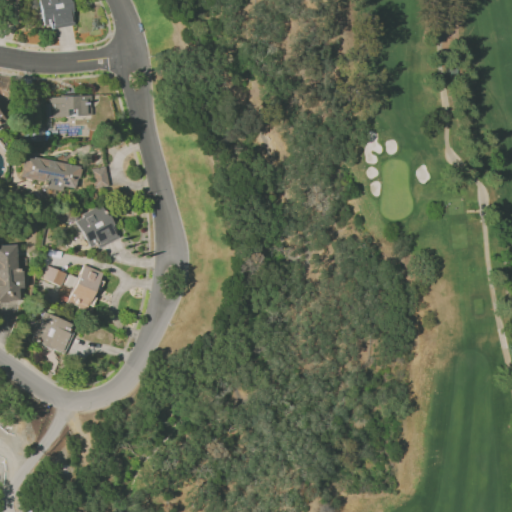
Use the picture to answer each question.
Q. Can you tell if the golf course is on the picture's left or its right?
right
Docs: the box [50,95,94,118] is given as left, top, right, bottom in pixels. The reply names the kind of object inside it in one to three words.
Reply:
house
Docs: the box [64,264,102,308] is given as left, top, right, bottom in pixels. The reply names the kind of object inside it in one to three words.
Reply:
house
